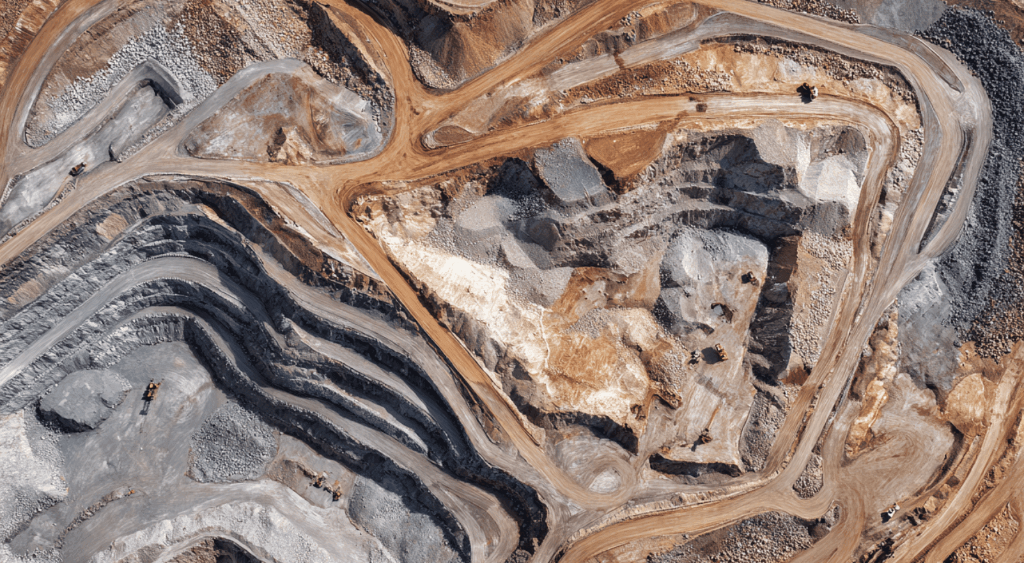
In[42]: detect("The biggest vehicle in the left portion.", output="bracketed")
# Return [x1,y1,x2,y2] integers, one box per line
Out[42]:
[141,381,156,410]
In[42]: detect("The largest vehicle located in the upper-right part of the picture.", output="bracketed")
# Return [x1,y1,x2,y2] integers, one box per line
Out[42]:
[803,84,820,101]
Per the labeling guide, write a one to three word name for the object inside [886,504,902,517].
vehicle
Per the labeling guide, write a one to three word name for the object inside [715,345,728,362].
vehicle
